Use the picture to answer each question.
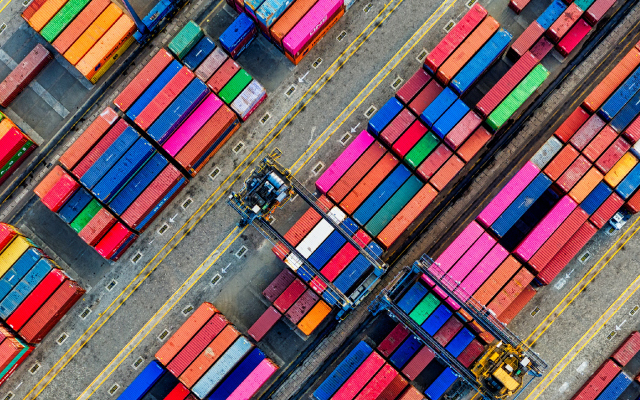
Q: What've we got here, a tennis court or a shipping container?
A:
shipping container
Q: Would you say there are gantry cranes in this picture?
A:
Yes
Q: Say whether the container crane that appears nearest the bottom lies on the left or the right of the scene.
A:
right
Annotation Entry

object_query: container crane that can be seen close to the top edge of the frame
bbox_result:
[119,0,186,46]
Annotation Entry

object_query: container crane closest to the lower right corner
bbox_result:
[367,254,552,400]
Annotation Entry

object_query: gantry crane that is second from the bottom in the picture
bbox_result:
[219,148,394,320]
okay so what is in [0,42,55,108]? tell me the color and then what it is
pink shipping container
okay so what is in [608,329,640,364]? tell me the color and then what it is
red shipping container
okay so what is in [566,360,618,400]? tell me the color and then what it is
red shipping container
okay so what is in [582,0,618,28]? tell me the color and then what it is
pink shipping container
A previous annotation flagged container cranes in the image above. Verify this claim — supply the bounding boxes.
[119,0,186,46]
[367,254,552,400]
[219,148,394,320]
